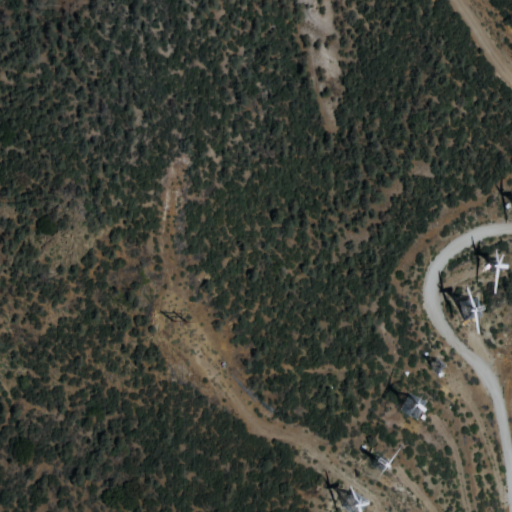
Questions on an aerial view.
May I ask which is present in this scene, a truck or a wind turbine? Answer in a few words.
wind turbine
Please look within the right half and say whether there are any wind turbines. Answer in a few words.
Yes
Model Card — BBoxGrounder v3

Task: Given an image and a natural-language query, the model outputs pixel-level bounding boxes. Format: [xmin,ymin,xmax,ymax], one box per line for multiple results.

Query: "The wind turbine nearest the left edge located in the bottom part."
[343,484,372,512]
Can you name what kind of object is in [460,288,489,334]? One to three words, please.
wind turbine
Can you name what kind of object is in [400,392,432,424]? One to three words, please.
wind turbine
